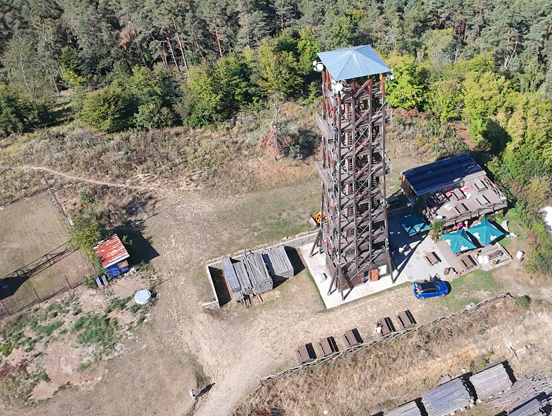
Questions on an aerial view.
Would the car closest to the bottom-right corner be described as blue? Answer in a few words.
Yes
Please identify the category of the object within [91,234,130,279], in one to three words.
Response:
shed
